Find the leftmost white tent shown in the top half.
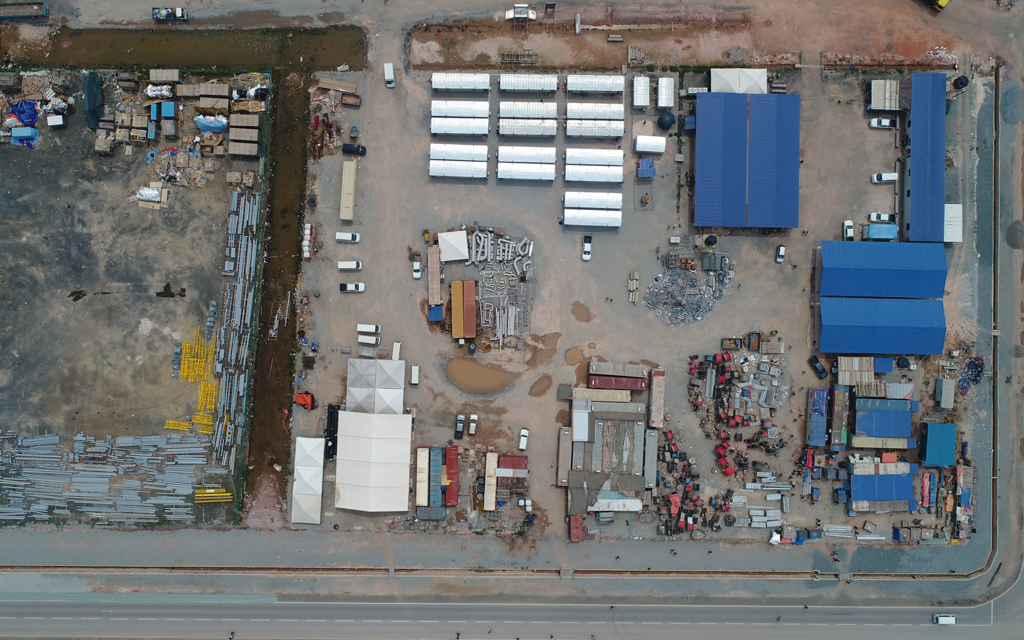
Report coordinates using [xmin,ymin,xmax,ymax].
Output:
[439,232,469,261]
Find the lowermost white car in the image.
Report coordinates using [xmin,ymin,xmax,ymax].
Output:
[929,612,958,624]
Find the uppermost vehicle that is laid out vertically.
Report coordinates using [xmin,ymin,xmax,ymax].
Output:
[384,63,396,91]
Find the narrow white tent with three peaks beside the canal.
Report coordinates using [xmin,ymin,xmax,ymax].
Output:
[293,436,327,524]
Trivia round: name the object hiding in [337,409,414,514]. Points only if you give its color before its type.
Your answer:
white tent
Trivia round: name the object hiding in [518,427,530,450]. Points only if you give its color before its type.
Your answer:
white vehicle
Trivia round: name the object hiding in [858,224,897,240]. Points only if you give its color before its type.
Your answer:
blue vehicle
